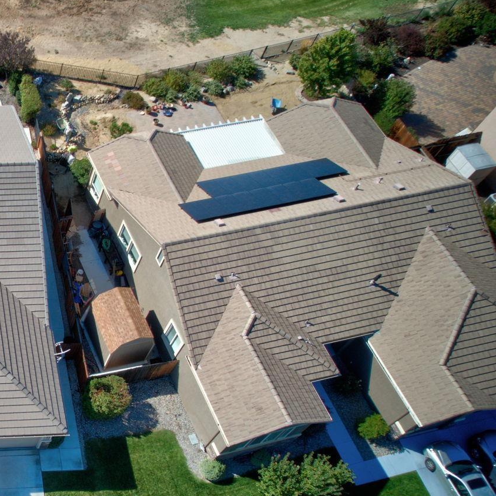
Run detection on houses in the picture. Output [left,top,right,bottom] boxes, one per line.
[0,105,82,457]
[86,92,496,458]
